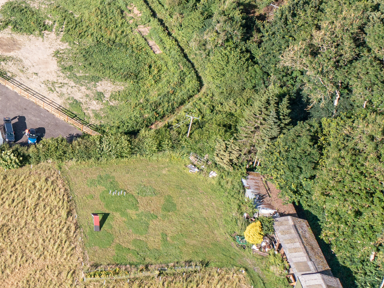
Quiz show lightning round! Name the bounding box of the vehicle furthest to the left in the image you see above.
[4,114,17,142]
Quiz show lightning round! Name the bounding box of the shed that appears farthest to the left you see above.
[245,172,293,225]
